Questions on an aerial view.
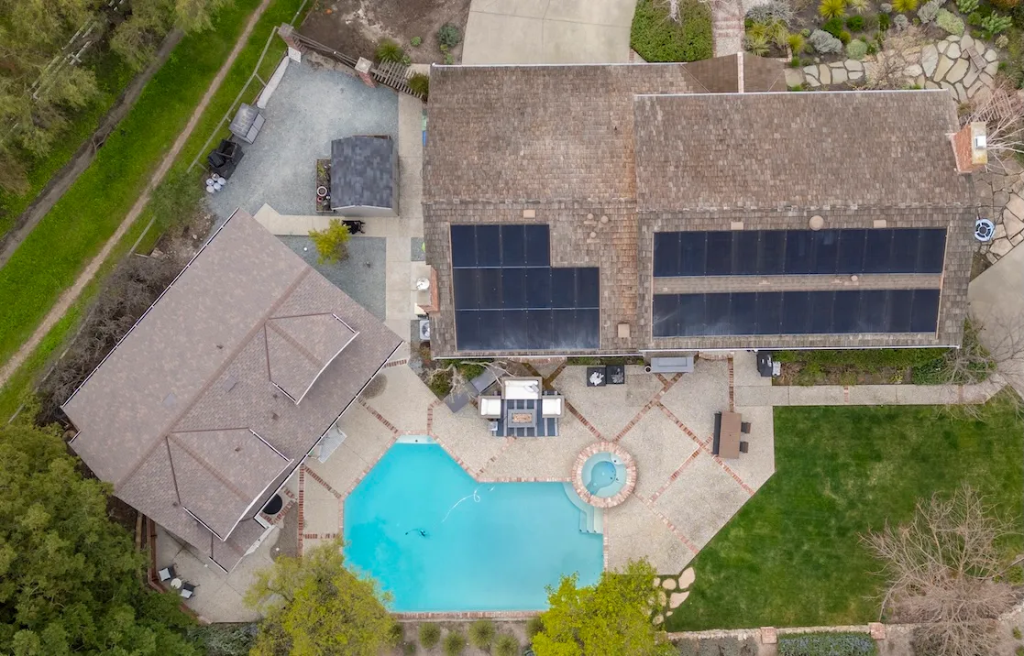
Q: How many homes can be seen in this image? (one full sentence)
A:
The picture shows 2 homes.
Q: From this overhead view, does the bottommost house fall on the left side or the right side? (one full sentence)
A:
It is on the left.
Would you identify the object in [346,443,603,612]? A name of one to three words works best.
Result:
swimming pool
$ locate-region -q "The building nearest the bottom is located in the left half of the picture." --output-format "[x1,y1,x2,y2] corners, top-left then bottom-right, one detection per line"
[59,208,404,573]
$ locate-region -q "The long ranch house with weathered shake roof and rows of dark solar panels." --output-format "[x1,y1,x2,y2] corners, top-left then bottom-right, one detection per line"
[410,51,990,359]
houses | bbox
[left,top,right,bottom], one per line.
[410,51,990,359]
[59,208,404,573]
